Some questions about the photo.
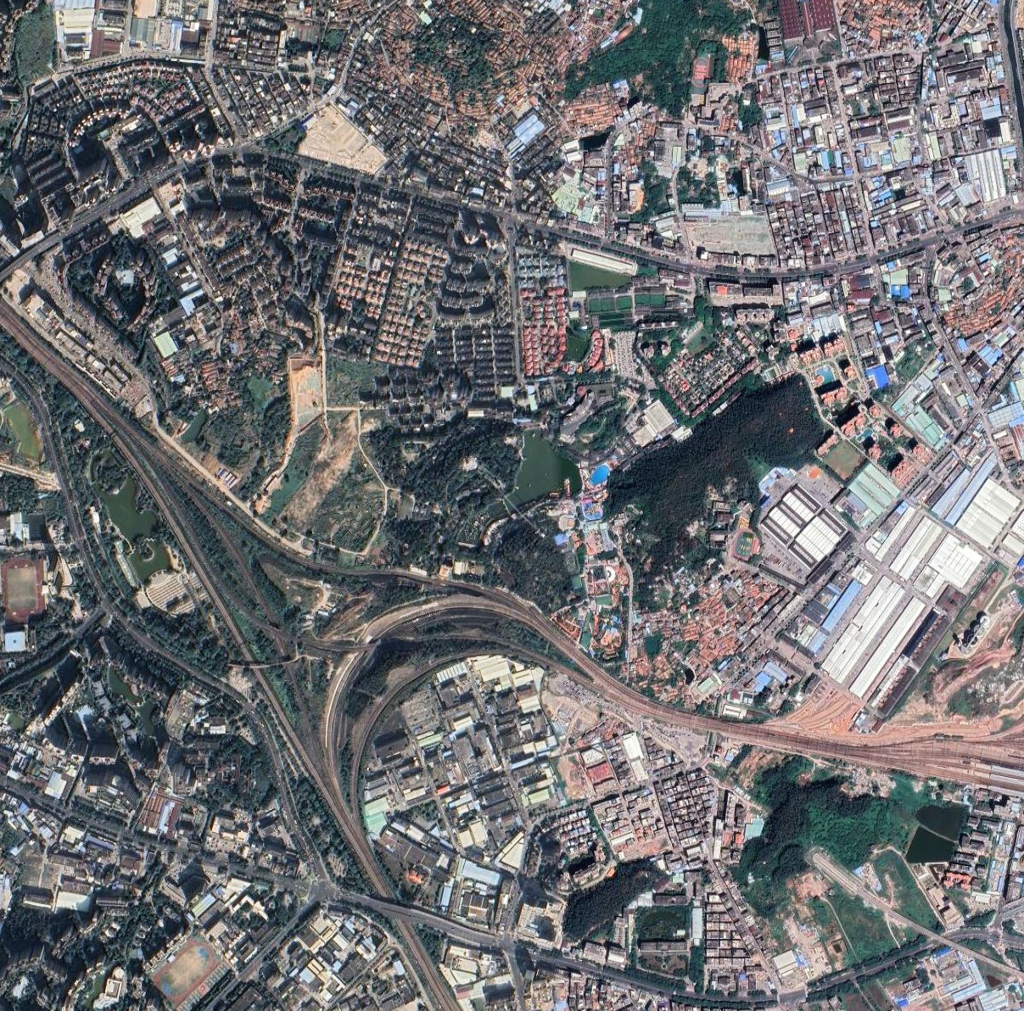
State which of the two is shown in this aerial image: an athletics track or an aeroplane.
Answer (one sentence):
The one in the frame is an athletics track.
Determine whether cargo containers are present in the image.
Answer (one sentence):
No, there is no cargo container in the image.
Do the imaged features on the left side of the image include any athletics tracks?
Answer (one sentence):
Yes, on the left side of the image there is an athletics track.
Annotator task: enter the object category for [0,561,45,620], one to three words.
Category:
running track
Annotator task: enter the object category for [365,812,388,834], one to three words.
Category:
shed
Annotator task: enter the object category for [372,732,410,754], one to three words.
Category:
building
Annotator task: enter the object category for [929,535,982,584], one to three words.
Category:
shed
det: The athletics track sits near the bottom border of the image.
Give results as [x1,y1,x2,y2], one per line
[145,934,231,1010]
